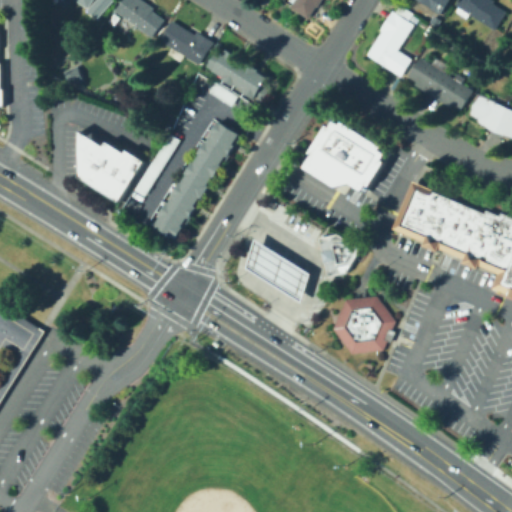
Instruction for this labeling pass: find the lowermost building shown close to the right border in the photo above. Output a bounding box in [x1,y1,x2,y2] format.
[392,182,512,298]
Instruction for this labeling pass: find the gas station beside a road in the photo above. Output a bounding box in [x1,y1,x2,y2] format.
[234,196,326,332]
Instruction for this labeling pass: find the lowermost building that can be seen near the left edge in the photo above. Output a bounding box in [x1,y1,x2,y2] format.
[0,312,48,408]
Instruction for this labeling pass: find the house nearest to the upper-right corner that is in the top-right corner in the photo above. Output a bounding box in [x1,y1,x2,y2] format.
[458,0,508,29]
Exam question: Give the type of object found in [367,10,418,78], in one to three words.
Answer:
house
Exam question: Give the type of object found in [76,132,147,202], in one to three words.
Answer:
building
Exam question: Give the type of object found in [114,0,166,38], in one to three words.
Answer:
house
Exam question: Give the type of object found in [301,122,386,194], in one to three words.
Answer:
building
